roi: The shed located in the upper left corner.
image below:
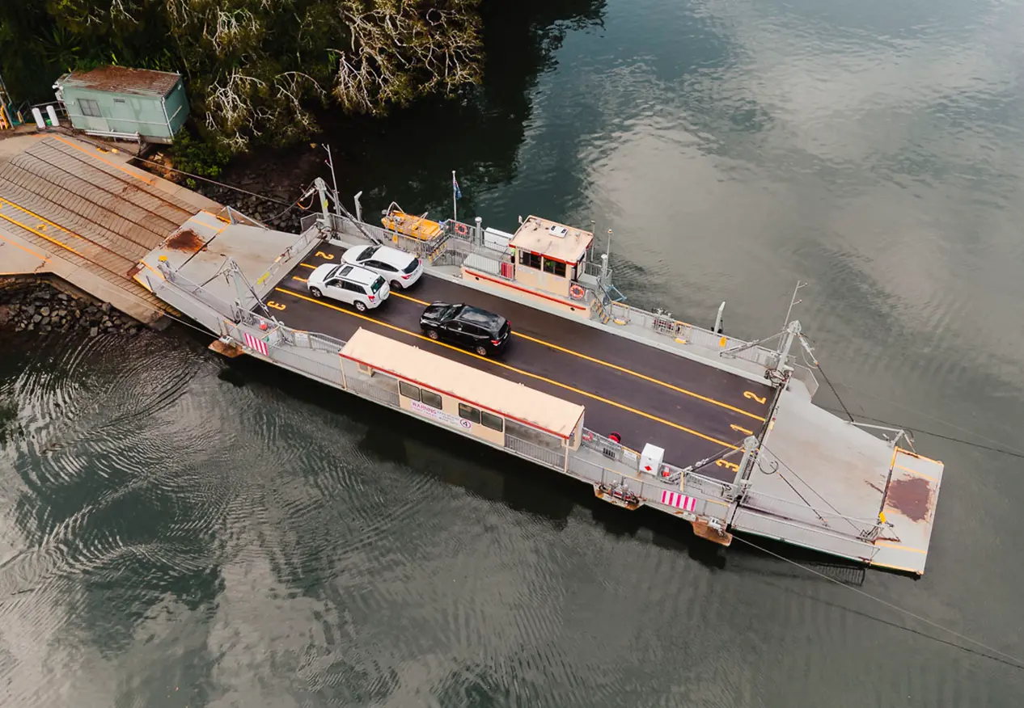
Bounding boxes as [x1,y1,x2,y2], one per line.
[55,62,189,142]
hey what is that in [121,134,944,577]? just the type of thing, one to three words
ship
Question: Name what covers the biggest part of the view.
water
